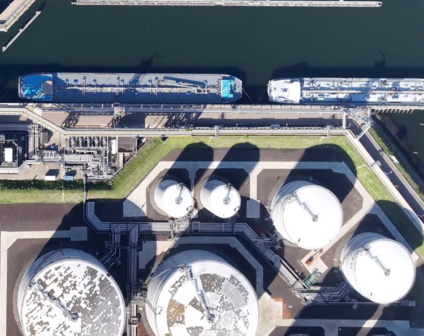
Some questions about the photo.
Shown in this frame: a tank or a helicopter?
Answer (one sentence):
Visible in the photo is a tank.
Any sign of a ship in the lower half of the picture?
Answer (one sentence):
No, no ship is visible in the lower half of the picture.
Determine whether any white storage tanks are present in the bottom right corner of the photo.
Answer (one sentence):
Yes, the scene does show a white storage tank in the bottom right corner of the photo.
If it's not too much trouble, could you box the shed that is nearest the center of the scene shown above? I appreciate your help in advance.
[116,136,137,153]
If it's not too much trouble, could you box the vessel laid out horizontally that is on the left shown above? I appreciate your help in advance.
[18,72,243,103]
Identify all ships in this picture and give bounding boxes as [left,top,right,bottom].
[266,77,424,105]
[18,72,243,103]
